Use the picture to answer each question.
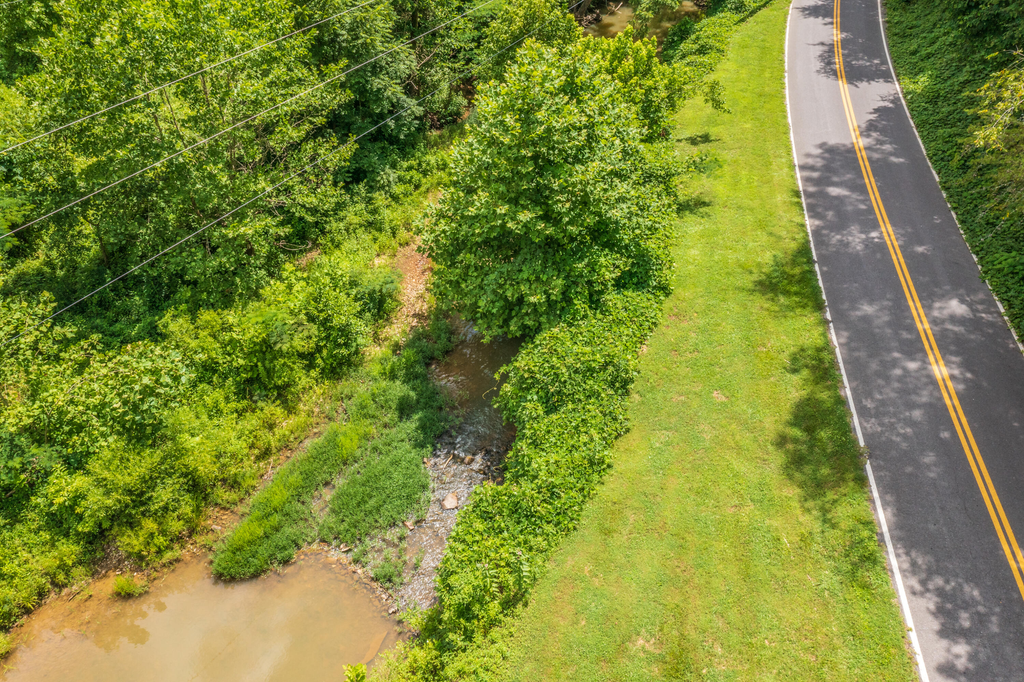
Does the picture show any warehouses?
No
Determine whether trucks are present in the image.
No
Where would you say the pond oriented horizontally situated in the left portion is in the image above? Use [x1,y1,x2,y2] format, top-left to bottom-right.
[0,569,395,682]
